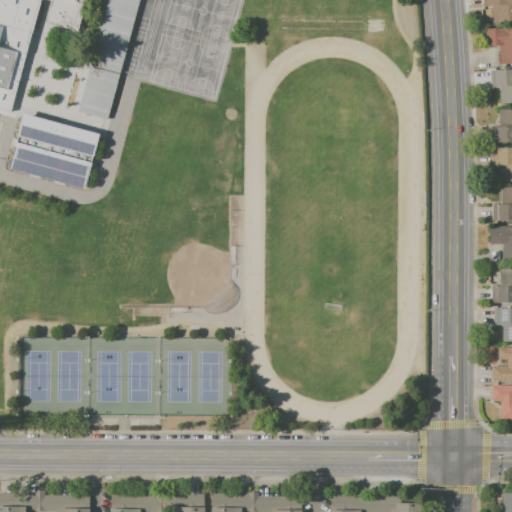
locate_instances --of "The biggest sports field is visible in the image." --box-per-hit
[266,58,398,402]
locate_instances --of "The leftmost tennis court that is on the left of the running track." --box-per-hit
[26,351,52,402]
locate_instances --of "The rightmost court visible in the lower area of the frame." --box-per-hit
[197,351,224,402]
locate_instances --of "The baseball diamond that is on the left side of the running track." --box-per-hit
[168,243,240,313]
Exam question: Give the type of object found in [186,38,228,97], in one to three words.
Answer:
basketball court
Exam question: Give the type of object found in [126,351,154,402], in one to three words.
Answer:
tennis court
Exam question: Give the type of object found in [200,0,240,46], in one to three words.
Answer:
basketball court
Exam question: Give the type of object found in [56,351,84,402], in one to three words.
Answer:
tennis court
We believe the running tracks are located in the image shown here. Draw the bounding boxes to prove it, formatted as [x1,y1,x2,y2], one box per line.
[245,36,419,422]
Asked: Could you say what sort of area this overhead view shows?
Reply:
sports ground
